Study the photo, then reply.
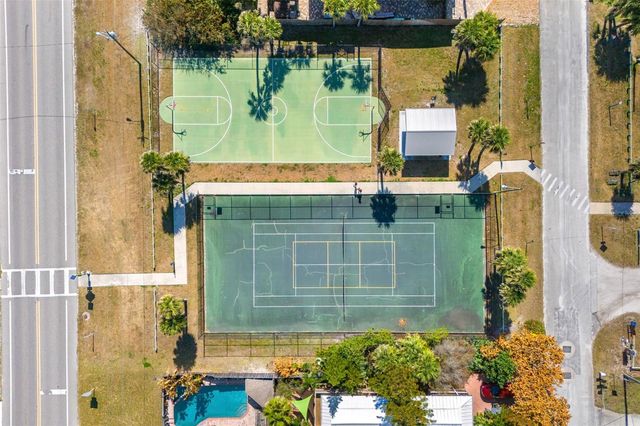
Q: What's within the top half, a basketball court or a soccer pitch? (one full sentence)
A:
What appears within the top half is a basketball court.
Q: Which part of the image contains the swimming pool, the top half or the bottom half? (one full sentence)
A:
It is in the bottom half that the swimming pool appears.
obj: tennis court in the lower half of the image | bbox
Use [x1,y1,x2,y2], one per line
[204,195,486,333]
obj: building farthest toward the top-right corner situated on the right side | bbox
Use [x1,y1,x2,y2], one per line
[399,109,456,159]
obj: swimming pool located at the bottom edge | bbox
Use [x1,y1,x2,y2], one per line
[168,377,262,426]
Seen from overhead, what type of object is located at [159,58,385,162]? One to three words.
basketball court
